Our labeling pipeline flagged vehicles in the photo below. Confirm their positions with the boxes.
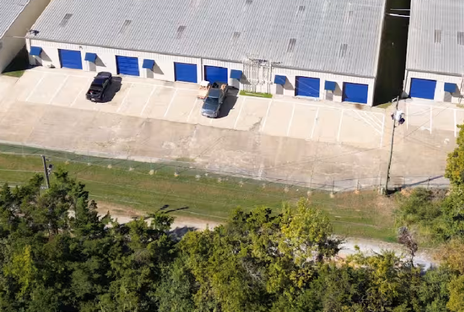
[78,68,113,99]
[200,78,229,110]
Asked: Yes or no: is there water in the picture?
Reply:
No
